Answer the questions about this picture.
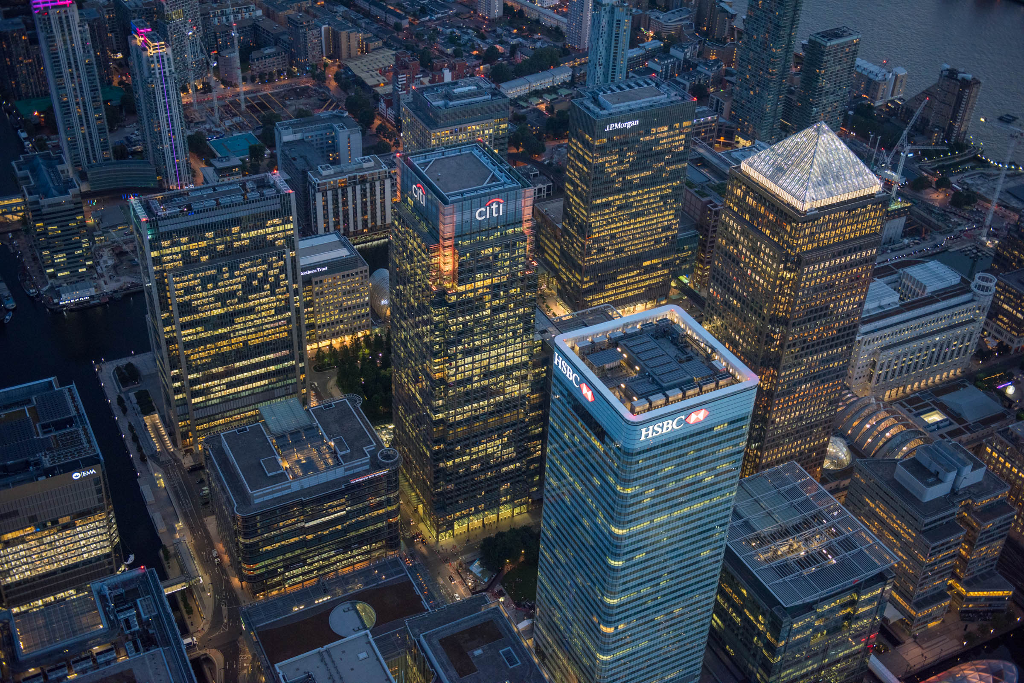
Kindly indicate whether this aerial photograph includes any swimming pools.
No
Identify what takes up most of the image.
buildings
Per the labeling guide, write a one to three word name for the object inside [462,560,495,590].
tent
